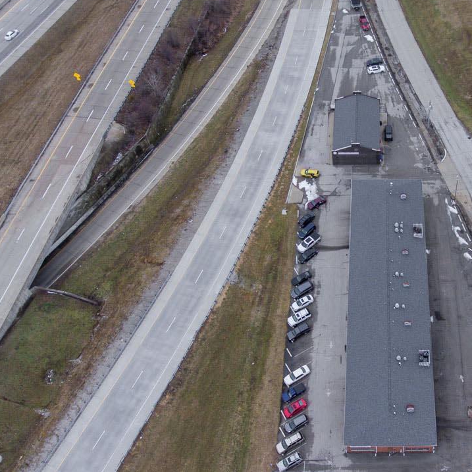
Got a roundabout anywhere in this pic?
No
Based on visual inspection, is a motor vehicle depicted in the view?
Yes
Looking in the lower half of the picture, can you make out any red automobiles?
Yes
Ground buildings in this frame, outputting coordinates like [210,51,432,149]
[343,177,437,452]
[332,94,382,165]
